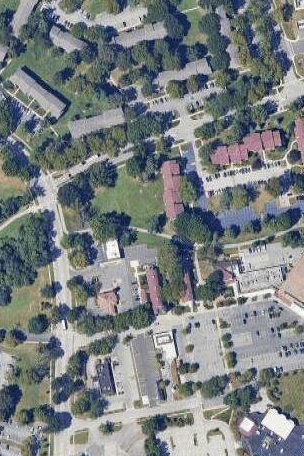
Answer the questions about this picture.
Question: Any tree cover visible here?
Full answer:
Yes, there's tree cover in this view.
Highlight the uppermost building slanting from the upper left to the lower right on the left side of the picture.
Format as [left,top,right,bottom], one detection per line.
[47,21,85,52]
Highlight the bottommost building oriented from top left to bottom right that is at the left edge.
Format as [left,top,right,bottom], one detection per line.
[10,69,65,116]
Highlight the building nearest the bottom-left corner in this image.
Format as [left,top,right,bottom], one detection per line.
[97,359,115,396]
